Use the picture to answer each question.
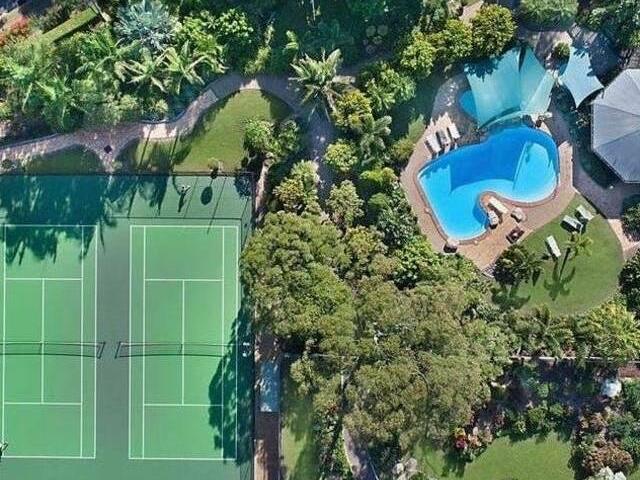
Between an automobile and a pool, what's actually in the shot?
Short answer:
pool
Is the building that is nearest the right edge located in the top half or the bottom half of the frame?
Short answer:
top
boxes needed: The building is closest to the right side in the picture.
[583,71,640,178]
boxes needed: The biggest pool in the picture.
[414,122,562,245]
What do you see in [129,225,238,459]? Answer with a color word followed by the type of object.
green tennis court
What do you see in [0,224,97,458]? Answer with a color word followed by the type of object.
green tennis court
